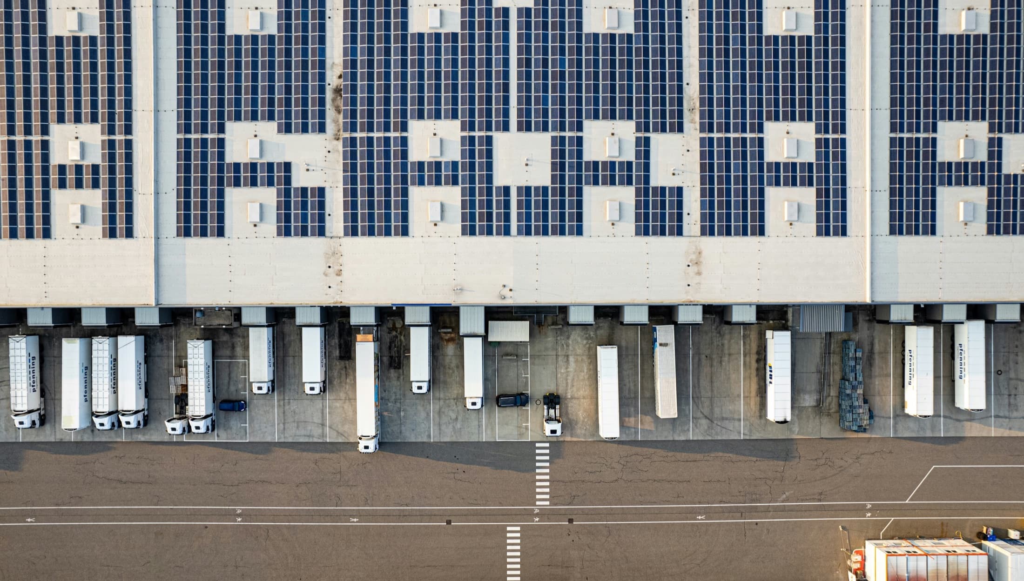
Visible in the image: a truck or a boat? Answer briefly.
truck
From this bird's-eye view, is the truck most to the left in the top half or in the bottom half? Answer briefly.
bottom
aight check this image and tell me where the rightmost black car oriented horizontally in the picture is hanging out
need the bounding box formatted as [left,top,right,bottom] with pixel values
[496,393,529,408]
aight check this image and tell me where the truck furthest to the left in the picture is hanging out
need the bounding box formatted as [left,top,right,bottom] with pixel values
[8,335,47,428]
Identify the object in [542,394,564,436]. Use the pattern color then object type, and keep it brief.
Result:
white vehicle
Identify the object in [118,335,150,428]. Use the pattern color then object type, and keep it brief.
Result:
white truck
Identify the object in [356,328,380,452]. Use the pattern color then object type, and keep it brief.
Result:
white truck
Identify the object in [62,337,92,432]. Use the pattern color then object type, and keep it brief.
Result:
white trailer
